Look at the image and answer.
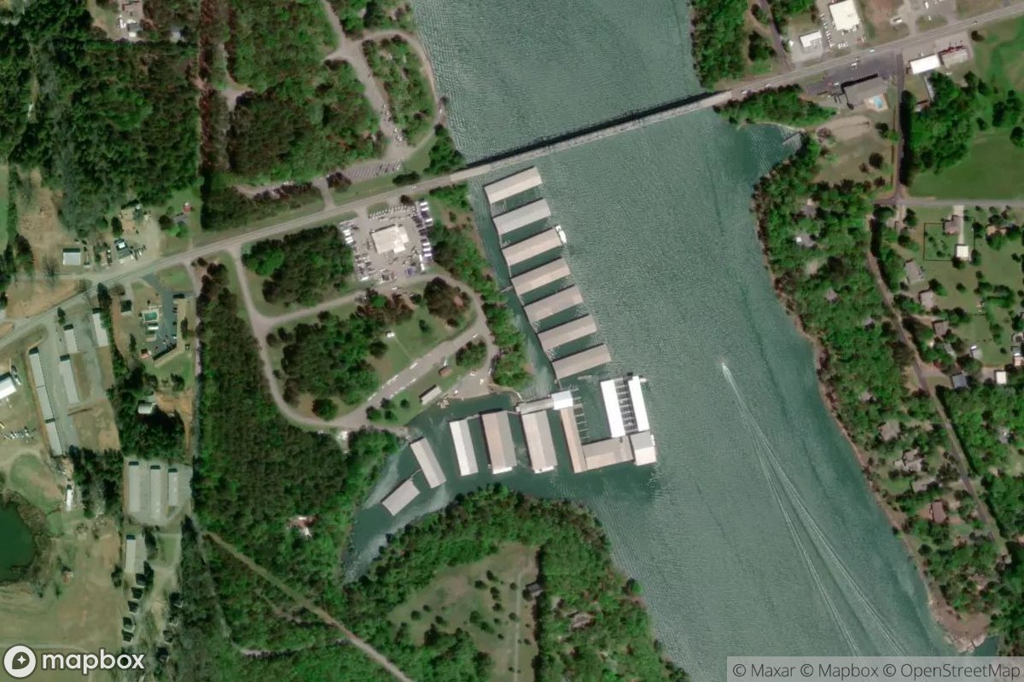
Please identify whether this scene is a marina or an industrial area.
marina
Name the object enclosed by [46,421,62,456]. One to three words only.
shed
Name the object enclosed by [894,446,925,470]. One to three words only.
house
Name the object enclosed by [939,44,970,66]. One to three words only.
building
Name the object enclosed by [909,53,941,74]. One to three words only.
building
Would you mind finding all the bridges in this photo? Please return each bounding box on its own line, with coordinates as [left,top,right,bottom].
[459,91,729,178]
